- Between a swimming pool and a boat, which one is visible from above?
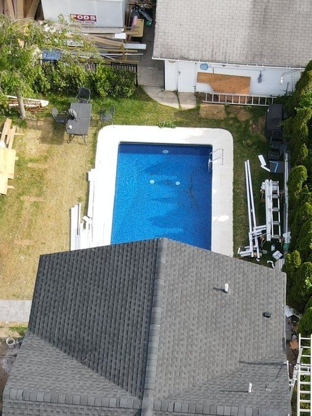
swimming pool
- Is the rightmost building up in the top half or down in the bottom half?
top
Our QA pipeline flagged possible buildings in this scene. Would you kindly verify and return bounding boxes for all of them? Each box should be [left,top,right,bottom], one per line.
[1,237,293,416]
[152,0,311,97]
